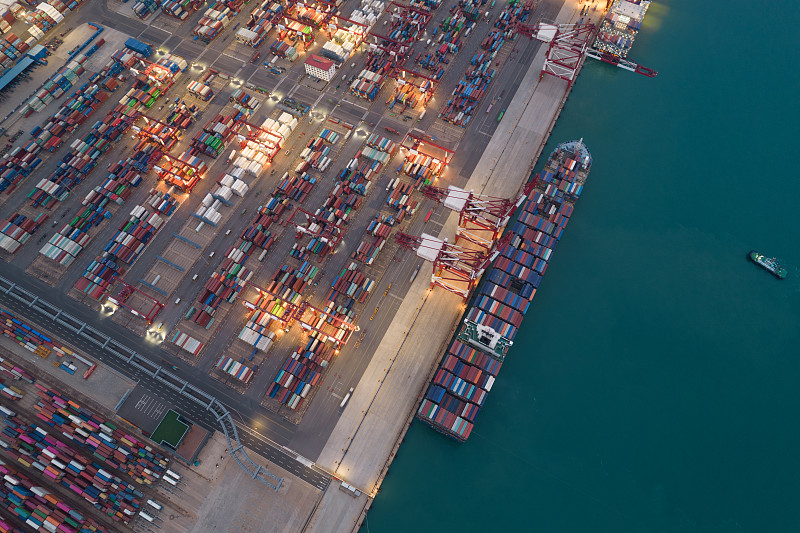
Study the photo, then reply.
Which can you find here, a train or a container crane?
container crane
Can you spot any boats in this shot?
Yes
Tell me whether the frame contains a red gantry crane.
Yes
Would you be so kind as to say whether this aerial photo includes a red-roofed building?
Yes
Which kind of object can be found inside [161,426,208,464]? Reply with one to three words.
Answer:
building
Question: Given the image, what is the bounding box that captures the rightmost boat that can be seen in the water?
[745,251,788,278]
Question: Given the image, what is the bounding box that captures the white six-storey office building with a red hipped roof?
[304,54,335,81]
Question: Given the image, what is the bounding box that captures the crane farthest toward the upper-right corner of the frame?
[516,22,659,89]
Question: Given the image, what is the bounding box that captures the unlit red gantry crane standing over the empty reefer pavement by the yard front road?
[102,279,170,329]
